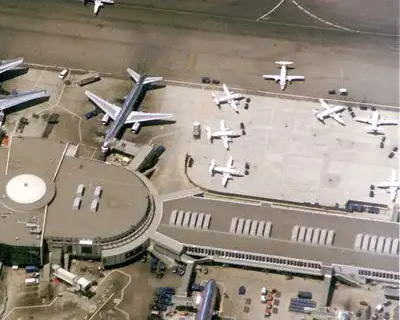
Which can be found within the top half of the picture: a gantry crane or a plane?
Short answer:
plane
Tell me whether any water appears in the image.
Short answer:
No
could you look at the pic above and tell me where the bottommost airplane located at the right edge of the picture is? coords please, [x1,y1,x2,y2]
[372,172,400,199]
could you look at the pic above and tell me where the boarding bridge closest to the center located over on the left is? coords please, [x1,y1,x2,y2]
[112,137,142,159]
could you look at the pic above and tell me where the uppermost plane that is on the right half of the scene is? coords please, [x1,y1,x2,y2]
[262,57,305,91]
